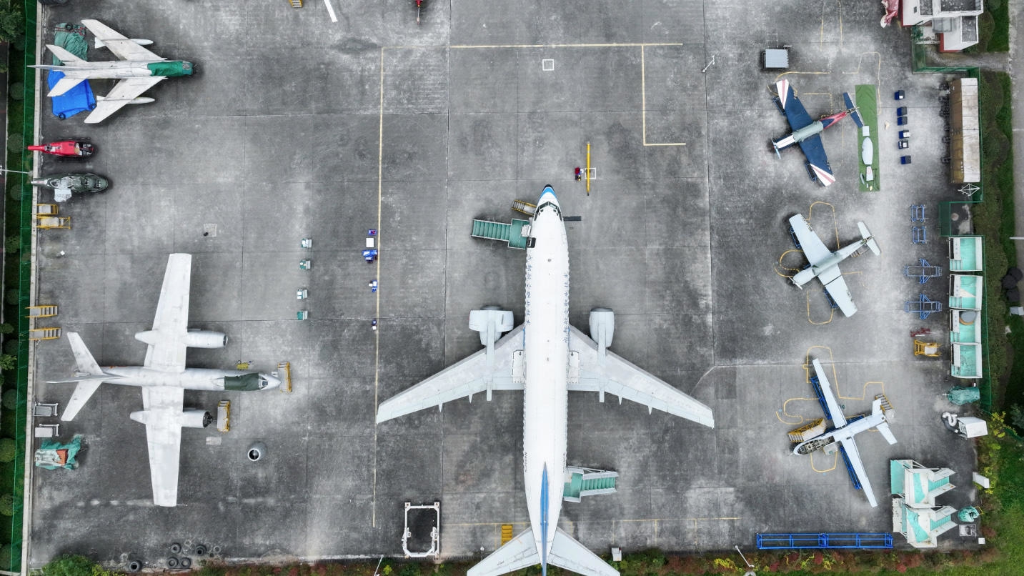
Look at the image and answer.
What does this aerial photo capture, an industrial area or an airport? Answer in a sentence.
The area seen from above is an airport.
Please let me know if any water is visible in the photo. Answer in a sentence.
No, the scene doesn't show any water.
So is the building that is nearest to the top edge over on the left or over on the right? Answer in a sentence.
The building that is nearest to the top edge sits on the right side.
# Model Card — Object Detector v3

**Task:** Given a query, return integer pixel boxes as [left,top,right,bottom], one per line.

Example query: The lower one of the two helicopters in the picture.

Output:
[30,173,110,202]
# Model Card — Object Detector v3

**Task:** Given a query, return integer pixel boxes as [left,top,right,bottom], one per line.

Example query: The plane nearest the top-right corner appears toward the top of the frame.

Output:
[772,80,863,185]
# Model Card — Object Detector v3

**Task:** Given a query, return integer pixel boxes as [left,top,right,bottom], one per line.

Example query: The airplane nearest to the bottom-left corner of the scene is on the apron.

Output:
[46,254,281,507]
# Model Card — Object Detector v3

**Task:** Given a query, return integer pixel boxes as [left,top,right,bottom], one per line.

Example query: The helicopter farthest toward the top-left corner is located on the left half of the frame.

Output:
[26,138,95,163]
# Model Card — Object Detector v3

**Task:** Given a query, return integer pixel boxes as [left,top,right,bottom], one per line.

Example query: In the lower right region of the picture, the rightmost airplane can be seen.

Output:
[790,358,897,507]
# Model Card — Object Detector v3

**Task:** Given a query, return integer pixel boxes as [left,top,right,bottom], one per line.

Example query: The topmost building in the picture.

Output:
[899,0,982,51]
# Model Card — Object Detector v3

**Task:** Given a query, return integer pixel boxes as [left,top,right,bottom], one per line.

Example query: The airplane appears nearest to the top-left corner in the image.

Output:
[27,19,197,123]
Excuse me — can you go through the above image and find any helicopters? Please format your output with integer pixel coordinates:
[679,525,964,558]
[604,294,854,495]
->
[30,173,110,202]
[26,138,95,163]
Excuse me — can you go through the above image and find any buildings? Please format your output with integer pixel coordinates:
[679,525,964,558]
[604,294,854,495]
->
[950,77,980,184]
[899,0,982,51]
